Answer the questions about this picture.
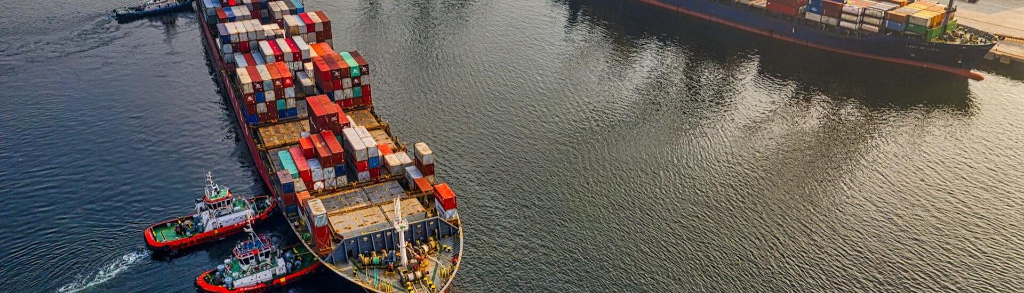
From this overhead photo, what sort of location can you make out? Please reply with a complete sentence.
The area seen from above is a port.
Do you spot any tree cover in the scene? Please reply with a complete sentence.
No, there is no tree cover in the image.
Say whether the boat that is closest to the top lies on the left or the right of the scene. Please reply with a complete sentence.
The boat that is closest to the top appears in the left half of the scene.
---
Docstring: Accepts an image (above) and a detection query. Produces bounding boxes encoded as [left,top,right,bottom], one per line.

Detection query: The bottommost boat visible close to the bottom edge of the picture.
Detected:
[190,216,339,293]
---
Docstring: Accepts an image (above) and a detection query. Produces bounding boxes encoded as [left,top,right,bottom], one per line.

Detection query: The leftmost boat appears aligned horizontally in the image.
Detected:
[114,0,193,20]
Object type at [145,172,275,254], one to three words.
boat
